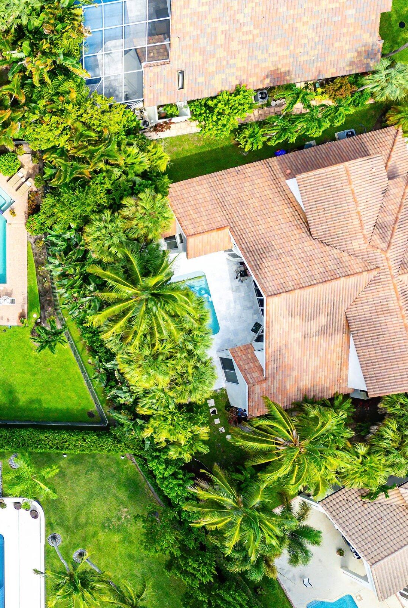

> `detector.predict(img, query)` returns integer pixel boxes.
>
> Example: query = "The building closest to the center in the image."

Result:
[159,128,408,416]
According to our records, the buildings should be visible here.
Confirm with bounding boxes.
[302,466,408,601]
[159,128,408,416]
[131,0,394,108]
